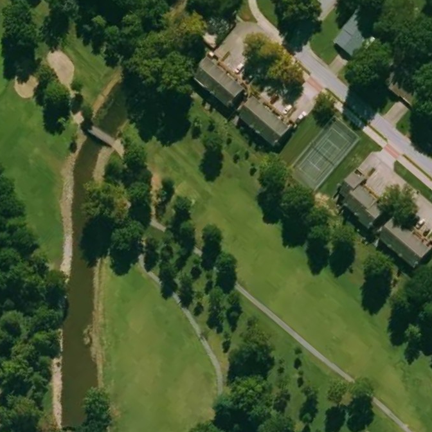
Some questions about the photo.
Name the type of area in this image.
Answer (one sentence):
What you see here is a golf course.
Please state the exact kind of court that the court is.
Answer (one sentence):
From above, the court can be identified as a tennis court.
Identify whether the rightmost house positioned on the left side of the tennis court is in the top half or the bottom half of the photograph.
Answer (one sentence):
You can find the rightmost house positioned on the left side of the tennis court in the top half.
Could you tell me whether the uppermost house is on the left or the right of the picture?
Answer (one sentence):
The uppermost house appears in the right half of the scene.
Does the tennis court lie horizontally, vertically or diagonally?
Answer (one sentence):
I'd say the tennis court is aligned diagonally in the picture.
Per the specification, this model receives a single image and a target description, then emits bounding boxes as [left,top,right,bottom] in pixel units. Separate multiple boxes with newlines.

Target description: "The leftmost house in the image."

[198,56,246,107]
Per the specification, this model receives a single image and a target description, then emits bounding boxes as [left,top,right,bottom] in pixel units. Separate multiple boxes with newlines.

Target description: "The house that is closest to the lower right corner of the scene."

[377,220,432,269]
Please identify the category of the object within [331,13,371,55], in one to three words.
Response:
house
